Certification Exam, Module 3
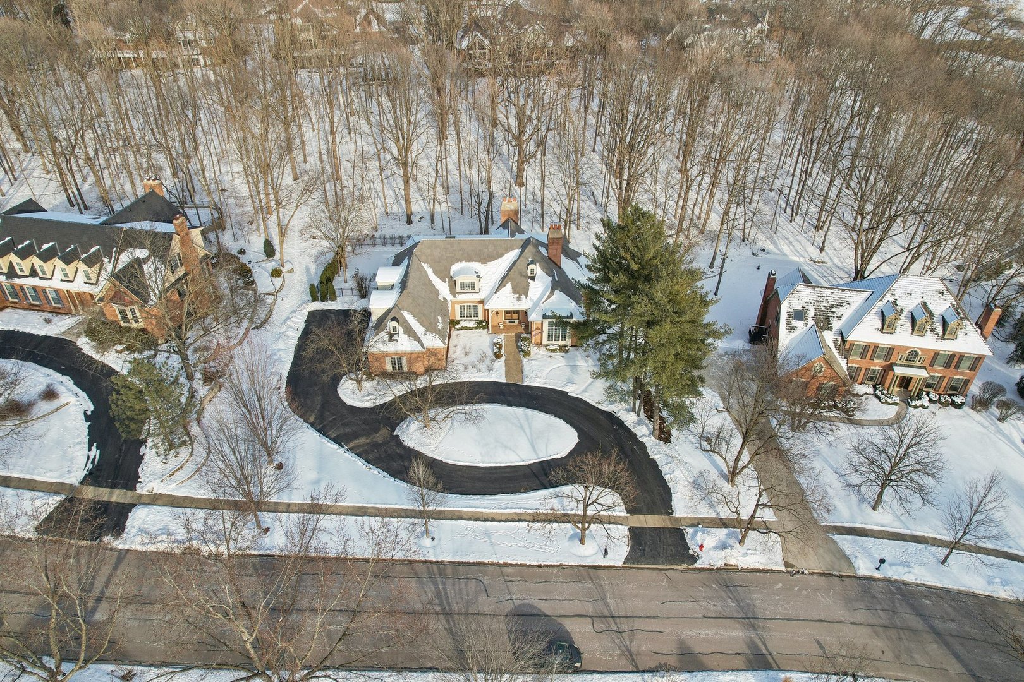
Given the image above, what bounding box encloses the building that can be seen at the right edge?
[744,252,994,400]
